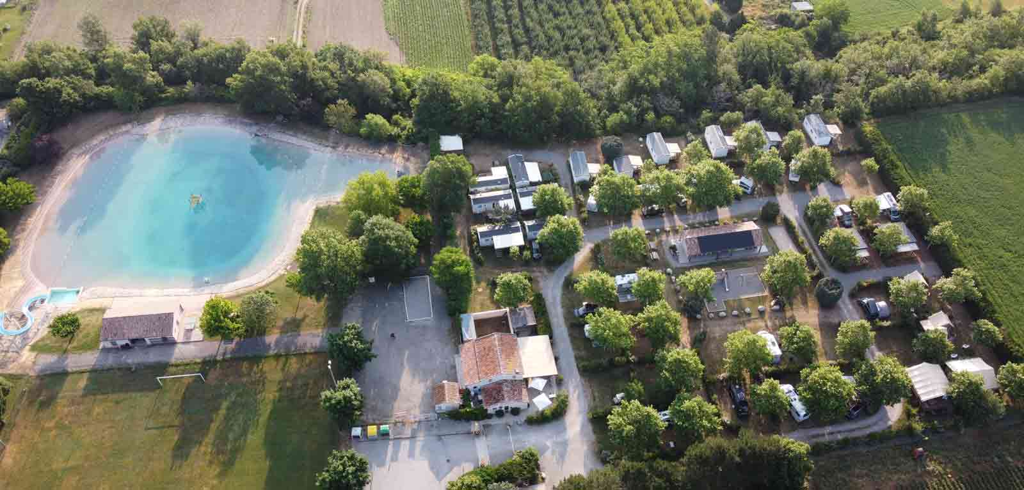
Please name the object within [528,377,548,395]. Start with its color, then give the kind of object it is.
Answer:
white umbrella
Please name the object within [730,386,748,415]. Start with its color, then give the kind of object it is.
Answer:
black car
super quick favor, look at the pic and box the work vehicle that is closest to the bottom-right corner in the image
[911,445,931,462]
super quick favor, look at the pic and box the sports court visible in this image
[705,267,767,312]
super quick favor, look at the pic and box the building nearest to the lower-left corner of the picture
[92,299,187,355]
